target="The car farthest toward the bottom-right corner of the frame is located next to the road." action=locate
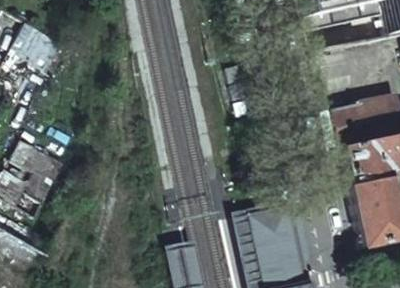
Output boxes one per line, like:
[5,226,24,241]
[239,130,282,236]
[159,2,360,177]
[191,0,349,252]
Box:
[330,208,344,232]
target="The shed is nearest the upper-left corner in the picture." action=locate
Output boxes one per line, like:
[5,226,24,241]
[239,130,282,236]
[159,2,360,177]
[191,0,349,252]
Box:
[10,24,56,71]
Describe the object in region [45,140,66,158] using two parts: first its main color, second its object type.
white vehicle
